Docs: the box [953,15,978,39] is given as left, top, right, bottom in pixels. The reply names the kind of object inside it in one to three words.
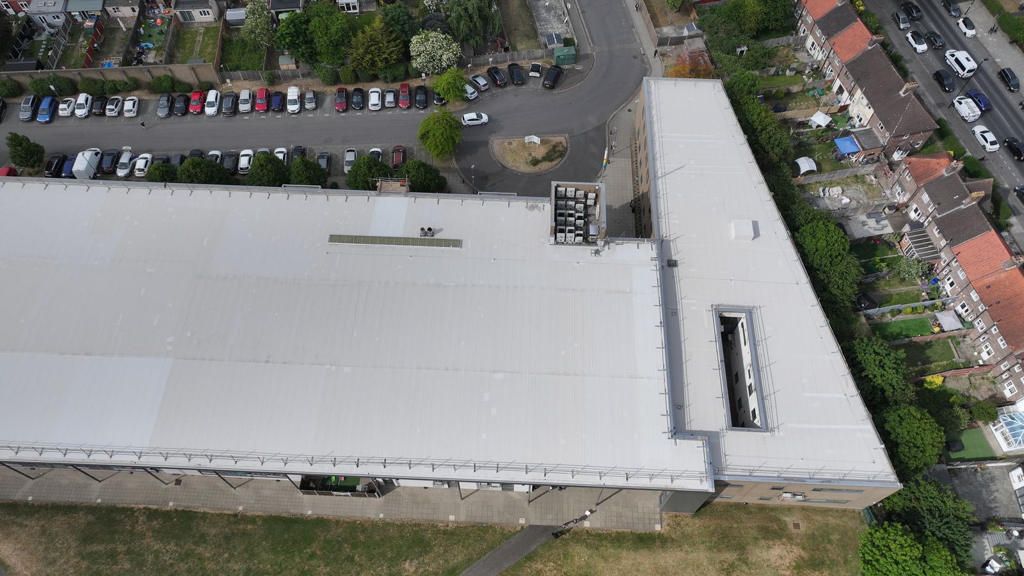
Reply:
car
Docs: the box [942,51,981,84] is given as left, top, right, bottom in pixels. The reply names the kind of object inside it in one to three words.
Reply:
vehicle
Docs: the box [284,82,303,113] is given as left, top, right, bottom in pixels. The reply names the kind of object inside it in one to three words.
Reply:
vehicle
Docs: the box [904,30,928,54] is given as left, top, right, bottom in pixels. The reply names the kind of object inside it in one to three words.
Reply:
car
